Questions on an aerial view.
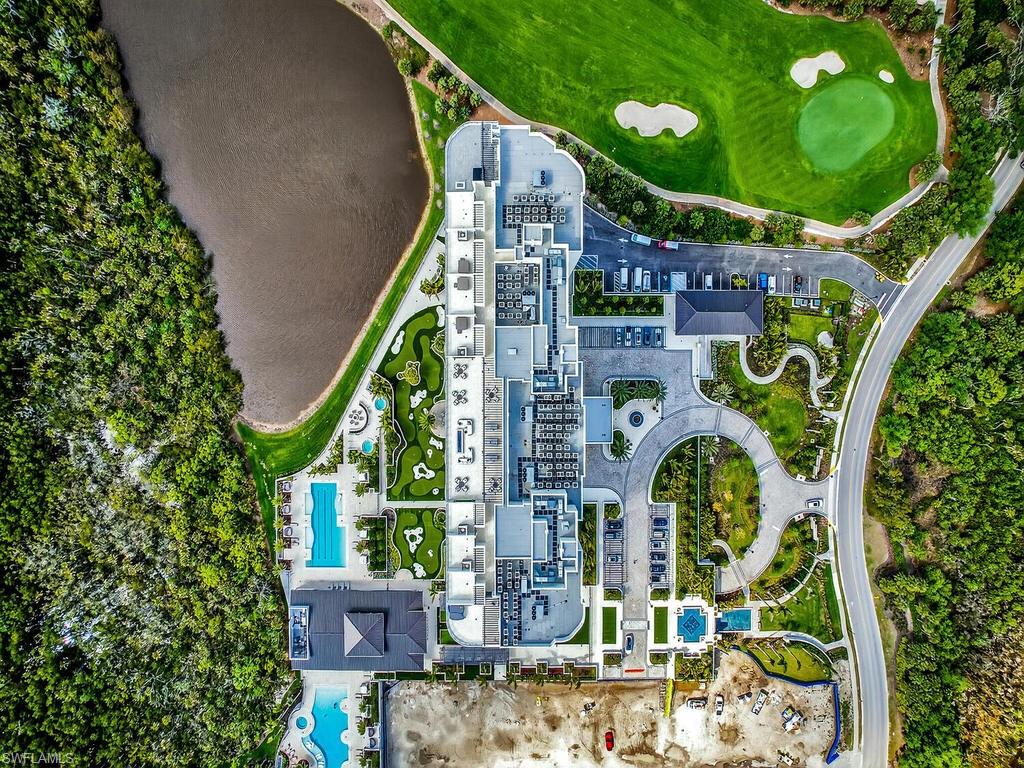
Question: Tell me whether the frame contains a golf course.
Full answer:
Yes, the picture does show a golf course.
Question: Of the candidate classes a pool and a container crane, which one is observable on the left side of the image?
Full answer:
It is a pool that can be seen on the left side of the image.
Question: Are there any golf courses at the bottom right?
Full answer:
No, looking at the bottom right, there is no golf course.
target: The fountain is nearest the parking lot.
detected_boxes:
[628,410,645,428]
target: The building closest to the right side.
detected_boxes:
[675,290,764,336]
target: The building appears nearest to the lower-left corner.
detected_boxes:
[290,589,426,671]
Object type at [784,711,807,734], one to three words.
truck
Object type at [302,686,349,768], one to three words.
swimming pool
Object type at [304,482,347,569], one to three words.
swimming pool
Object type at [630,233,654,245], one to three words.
vehicle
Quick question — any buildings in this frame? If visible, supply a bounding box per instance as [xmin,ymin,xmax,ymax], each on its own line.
[675,290,764,336]
[443,117,613,647]
[290,589,426,671]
